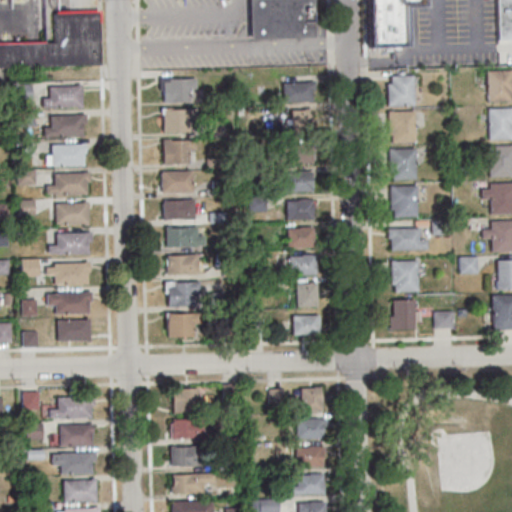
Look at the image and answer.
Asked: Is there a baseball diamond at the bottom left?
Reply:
No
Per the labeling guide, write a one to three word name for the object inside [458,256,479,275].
building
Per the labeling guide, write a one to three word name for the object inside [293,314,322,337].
house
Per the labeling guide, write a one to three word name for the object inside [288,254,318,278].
house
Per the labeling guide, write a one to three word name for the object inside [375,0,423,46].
building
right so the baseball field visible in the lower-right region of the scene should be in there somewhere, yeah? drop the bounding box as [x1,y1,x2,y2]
[430,428,494,494]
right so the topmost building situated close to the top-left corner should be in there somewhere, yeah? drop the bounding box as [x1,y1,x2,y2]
[0,10,102,68]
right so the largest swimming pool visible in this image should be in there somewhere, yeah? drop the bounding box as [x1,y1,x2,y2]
[472,240,487,254]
